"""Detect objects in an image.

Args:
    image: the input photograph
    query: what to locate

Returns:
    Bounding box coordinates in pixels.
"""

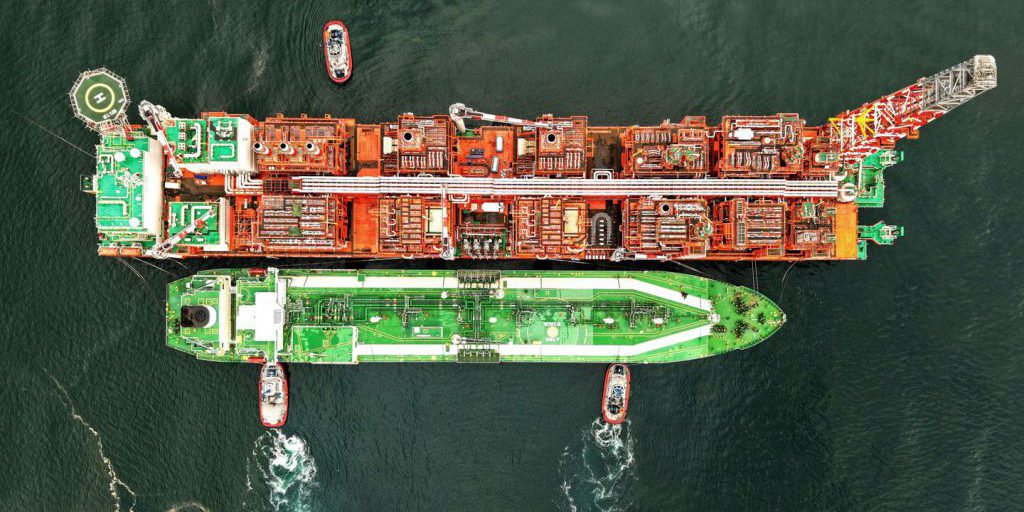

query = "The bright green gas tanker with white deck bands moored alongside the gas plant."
[166,267,787,366]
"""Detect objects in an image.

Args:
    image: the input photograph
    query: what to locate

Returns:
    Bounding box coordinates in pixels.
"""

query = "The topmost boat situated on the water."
[321,19,356,85]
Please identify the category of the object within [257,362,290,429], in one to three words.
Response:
boat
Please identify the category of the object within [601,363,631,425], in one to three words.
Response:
boat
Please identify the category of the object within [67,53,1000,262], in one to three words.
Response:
ship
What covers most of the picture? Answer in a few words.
water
